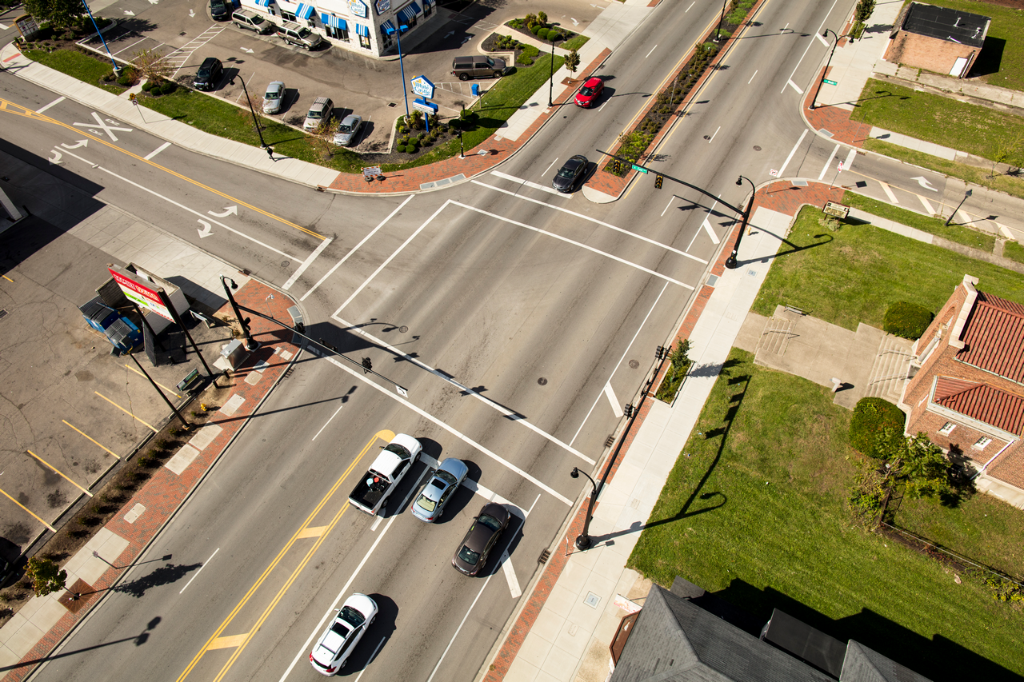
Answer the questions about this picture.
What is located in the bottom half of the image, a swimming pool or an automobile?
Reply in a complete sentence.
The one visible in the bottom half of the image is an automobile.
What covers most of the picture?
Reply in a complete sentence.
What you mostly see from above here is paved ground.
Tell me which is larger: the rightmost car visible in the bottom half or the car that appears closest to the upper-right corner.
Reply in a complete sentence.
The rightmost car visible in the bottom half takes up more space than the car that appears closest to the upper-right corner does.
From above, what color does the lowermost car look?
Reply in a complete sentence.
In this view, the lowermost car is white.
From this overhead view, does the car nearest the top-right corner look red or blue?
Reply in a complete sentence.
The color of the car nearest the top-right corner is red.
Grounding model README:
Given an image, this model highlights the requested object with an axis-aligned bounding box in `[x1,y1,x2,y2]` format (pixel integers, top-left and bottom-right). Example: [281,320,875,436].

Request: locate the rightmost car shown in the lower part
[450,501,512,582]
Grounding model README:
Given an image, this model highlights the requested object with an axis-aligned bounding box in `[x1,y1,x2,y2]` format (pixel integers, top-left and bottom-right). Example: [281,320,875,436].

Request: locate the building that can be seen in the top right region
[885,7,987,77]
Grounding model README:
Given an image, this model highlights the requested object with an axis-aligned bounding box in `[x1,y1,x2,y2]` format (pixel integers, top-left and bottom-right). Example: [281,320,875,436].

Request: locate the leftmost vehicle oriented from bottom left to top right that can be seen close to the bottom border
[305,589,381,682]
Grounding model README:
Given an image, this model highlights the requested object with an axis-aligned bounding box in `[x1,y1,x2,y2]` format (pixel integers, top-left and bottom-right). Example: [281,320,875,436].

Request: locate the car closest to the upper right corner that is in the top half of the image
[574,72,604,105]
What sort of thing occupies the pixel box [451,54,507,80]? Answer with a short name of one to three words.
truck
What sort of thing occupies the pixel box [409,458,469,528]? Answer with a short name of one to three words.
car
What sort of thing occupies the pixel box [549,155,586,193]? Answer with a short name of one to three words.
car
